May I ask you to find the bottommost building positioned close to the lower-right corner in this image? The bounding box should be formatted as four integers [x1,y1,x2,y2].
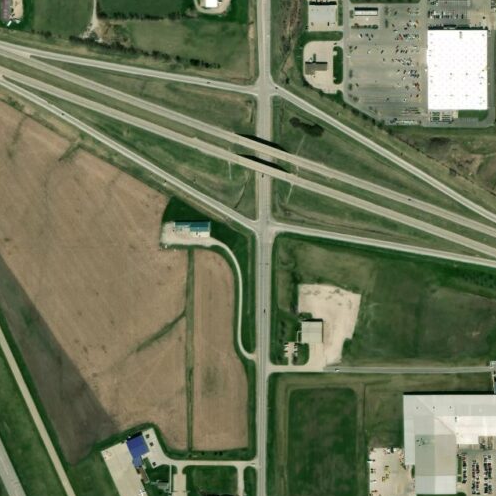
[403,394,496,494]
